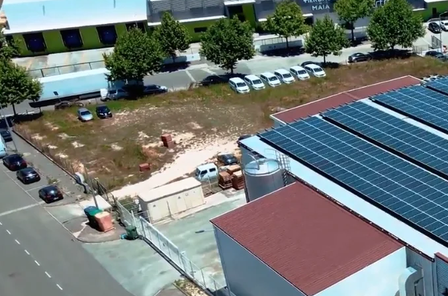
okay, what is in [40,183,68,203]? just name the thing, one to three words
car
